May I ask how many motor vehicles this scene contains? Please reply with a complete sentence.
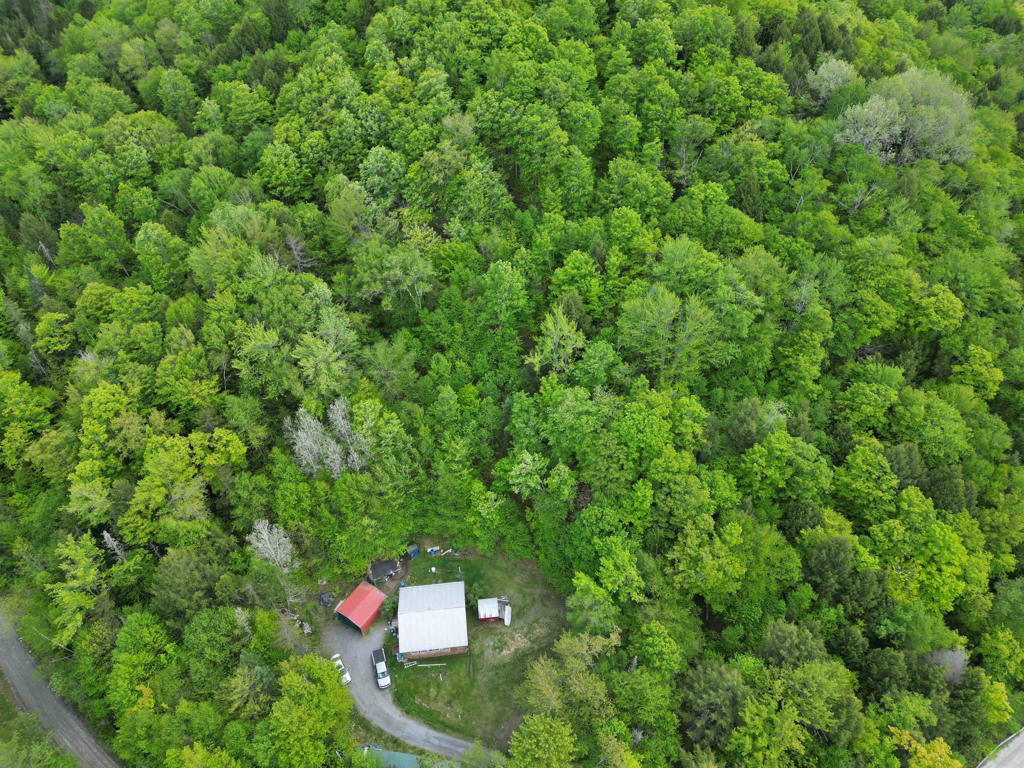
There are 2 motor vehicles in the image.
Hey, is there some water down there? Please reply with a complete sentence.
No, no water is visible.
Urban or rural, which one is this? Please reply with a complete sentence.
It looks rural.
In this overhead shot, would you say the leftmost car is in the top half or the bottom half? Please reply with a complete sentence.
Seen from above, the leftmost car lies in the bottom half of the view.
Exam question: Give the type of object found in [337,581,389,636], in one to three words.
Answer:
building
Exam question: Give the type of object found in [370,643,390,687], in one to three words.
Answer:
vehicle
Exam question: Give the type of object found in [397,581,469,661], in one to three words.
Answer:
house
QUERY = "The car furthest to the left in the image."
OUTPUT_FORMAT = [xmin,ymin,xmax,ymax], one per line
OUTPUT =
[327,650,349,685]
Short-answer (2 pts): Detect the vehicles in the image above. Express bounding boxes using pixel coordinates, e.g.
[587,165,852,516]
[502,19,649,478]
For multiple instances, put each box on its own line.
[327,650,349,685]
[370,643,390,687]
